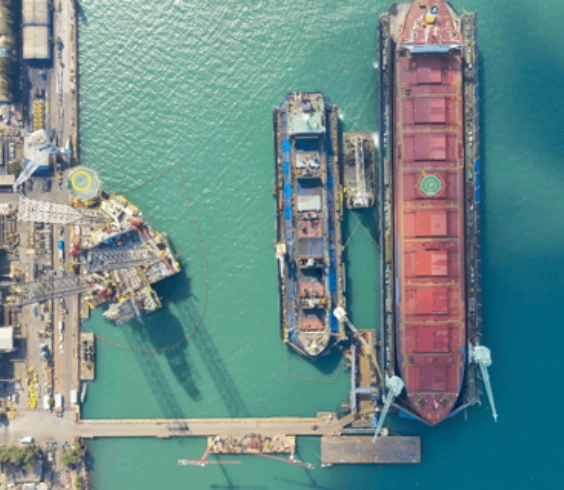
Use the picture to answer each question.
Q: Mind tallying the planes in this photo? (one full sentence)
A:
I count no planes.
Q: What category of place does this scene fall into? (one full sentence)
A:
This image shows a port.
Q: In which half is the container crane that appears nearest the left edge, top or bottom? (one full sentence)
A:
Seen from above, the container crane that appears nearest the left edge lies in the top half of the view.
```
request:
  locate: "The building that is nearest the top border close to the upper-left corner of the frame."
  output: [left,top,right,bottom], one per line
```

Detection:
[22,0,52,29]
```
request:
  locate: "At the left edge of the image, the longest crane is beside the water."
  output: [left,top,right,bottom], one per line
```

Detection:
[13,138,75,190]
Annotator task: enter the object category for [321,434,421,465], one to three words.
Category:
ship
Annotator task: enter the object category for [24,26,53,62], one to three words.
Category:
building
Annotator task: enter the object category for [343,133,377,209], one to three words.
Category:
ship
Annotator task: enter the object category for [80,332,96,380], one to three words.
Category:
pier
